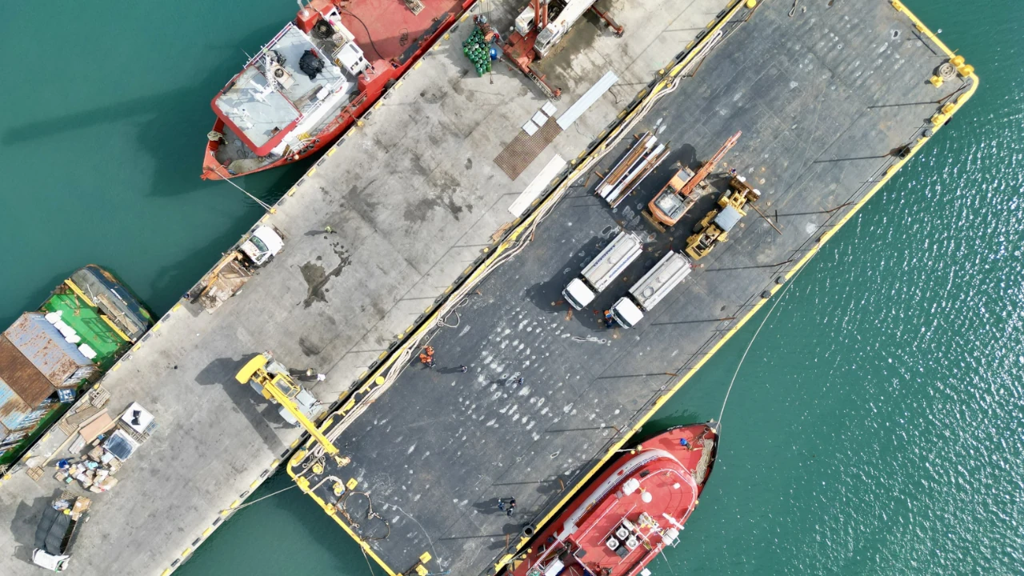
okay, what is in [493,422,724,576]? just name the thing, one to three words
boat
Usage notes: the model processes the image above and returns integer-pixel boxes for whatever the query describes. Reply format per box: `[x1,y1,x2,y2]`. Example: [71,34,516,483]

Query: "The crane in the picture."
[474,0,624,103]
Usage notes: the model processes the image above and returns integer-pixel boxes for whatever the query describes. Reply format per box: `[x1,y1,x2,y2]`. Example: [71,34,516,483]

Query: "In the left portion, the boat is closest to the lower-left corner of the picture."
[0,266,155,477]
